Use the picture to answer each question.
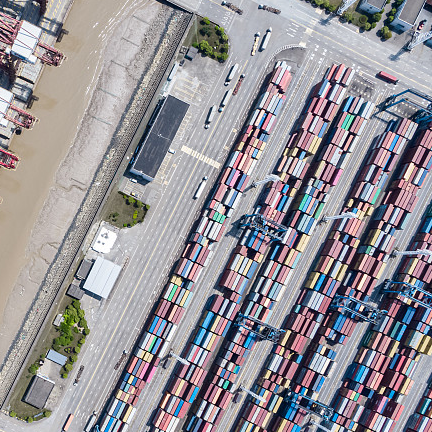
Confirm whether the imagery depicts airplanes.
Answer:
No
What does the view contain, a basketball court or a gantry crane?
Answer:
gantry crane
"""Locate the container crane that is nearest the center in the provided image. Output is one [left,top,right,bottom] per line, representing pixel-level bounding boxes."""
[237,211,291,241]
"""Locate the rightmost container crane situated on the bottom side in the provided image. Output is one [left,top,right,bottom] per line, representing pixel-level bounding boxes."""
[380,280,432,310]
